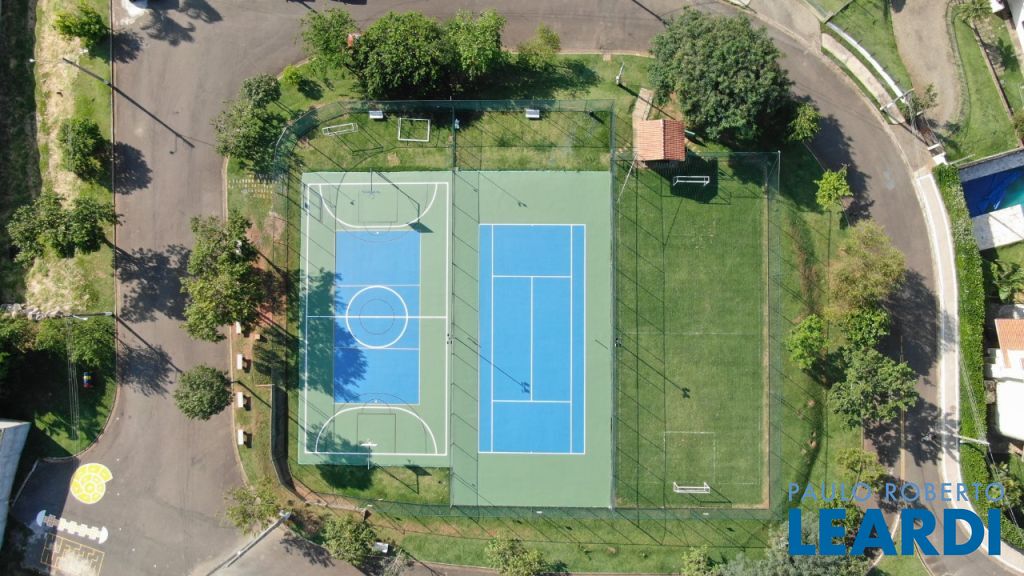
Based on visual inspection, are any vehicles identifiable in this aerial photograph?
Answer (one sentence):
No, this view has no vehicle in it.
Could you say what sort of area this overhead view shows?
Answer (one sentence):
The area seen from above is a sports ground.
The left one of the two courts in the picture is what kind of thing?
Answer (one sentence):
It turns out the left one of the two courts is a basketball court.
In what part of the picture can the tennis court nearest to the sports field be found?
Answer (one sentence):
The tennis court nearest to the sports field is located in the center region of the scene.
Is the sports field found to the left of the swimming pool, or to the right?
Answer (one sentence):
From the viewer's perspective, the sports field falls to the left of the swimming pool.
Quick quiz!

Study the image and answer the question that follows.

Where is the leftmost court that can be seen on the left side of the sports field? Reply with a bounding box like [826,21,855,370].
[298,171,453,466]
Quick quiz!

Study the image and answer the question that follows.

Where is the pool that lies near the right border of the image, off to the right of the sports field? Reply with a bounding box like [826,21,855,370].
[964,150,1024,251]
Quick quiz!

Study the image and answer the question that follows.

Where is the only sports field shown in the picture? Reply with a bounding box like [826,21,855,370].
[613,160,766,506]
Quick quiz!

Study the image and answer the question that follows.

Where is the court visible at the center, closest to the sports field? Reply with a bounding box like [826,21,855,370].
[453,171,611,507]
